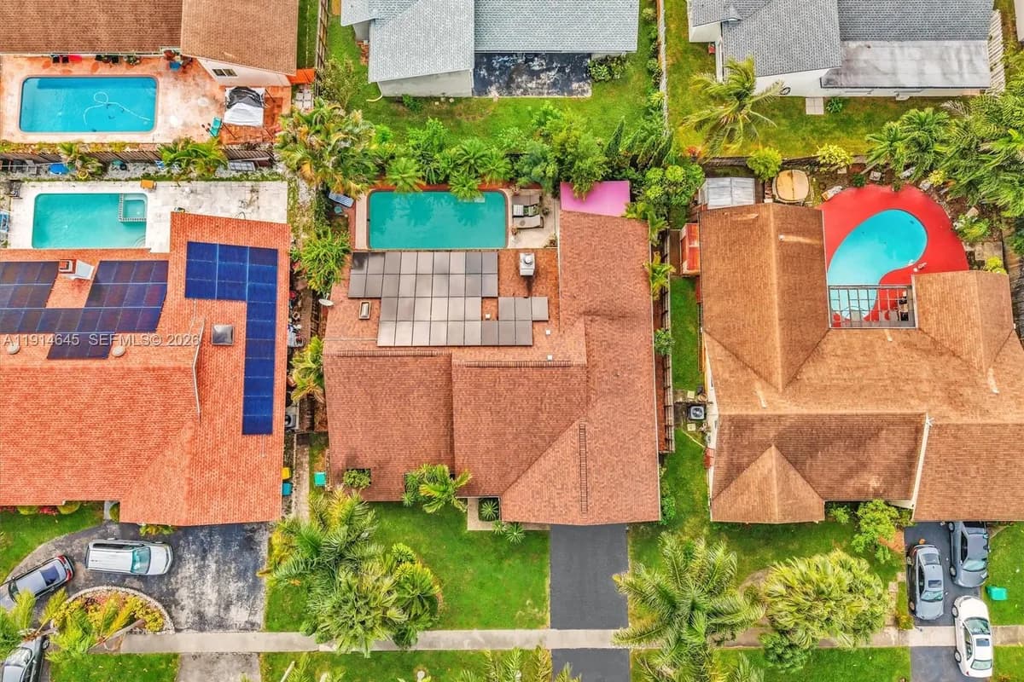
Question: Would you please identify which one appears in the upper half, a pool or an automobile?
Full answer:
You can see a pool in the upper half.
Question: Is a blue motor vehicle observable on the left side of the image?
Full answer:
No, no blue motor vehicle can be made out on the left side of the image.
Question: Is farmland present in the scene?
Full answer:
No, there is no farmland in the image.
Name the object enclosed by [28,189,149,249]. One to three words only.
swimming pool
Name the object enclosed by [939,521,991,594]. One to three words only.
car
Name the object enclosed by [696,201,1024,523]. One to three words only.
house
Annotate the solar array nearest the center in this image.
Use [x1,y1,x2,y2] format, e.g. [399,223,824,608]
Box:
[348,251,549,345]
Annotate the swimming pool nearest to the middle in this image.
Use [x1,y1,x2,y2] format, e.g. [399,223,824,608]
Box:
[366,187,510,249]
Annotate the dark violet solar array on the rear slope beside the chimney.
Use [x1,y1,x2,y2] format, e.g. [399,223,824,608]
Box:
[0,261,167,357]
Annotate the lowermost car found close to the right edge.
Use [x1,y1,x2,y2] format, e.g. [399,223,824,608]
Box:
[945,593,993,679]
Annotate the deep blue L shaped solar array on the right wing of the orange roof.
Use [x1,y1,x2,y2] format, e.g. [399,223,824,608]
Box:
[185,242,278,435]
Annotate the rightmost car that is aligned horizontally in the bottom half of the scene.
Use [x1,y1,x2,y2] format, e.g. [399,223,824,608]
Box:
[84,537,176,579]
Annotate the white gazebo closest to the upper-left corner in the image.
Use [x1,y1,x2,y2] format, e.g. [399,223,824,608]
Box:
[224,86,277,138]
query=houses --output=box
[0,0,301,87]
[341,0,639,101]
[0,213,292,526]
[696,201,1024,523]
[691,0,993,102]
[325,211,662,524]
